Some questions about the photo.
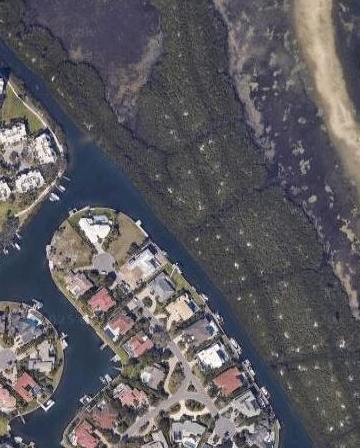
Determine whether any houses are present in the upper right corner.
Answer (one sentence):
No, I can find no house in the upper right corner.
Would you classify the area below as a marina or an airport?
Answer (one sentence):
What you see here is a marina.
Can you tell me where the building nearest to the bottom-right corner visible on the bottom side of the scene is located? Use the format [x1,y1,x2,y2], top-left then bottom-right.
[246,418,272,448]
